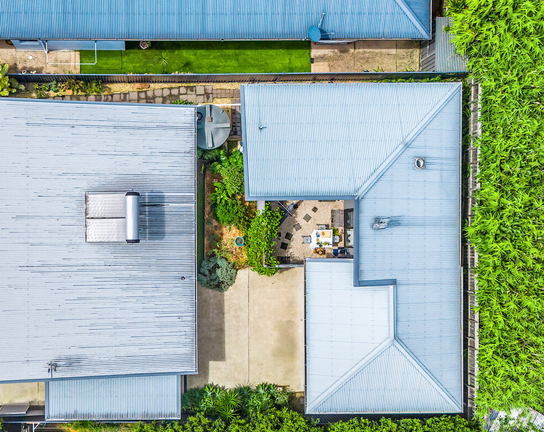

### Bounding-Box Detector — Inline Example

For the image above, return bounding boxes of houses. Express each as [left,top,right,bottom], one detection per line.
[241,82,464,417]
[0,98,199,384]
[0,0,433,53]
